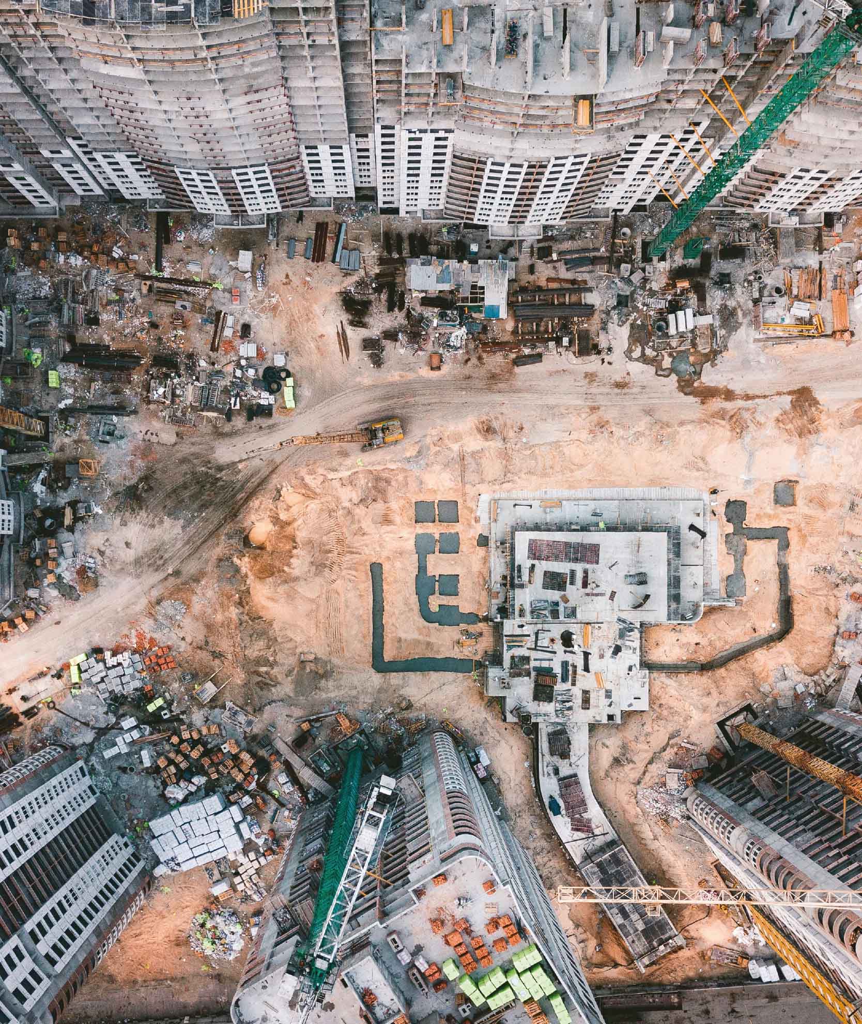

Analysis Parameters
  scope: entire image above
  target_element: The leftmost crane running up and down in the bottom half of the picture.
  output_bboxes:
[280,729,407,1024]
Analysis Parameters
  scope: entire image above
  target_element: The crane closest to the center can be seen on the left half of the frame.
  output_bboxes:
[237,417,411,450]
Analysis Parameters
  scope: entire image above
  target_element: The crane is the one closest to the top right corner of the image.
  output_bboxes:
[650,0,862,265]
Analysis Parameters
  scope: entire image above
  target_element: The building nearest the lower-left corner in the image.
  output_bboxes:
[0,745,154,1024]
